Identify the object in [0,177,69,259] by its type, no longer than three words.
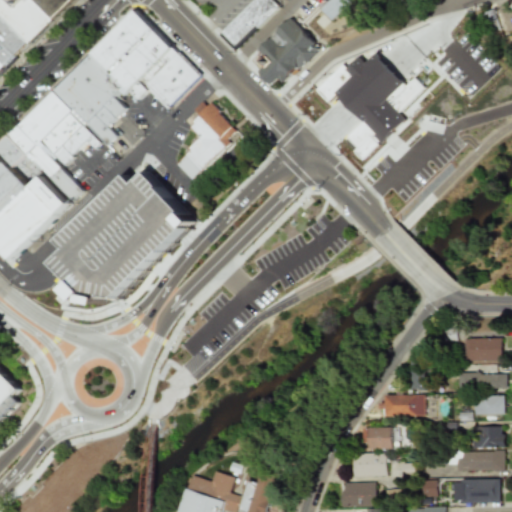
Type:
building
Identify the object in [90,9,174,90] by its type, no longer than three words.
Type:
building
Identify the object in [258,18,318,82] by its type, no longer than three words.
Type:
house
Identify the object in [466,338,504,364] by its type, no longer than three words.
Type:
house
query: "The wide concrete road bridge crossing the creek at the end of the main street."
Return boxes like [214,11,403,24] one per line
[366,218,462,304]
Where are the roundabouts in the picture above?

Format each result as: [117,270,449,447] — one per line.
[0,277,180,457]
